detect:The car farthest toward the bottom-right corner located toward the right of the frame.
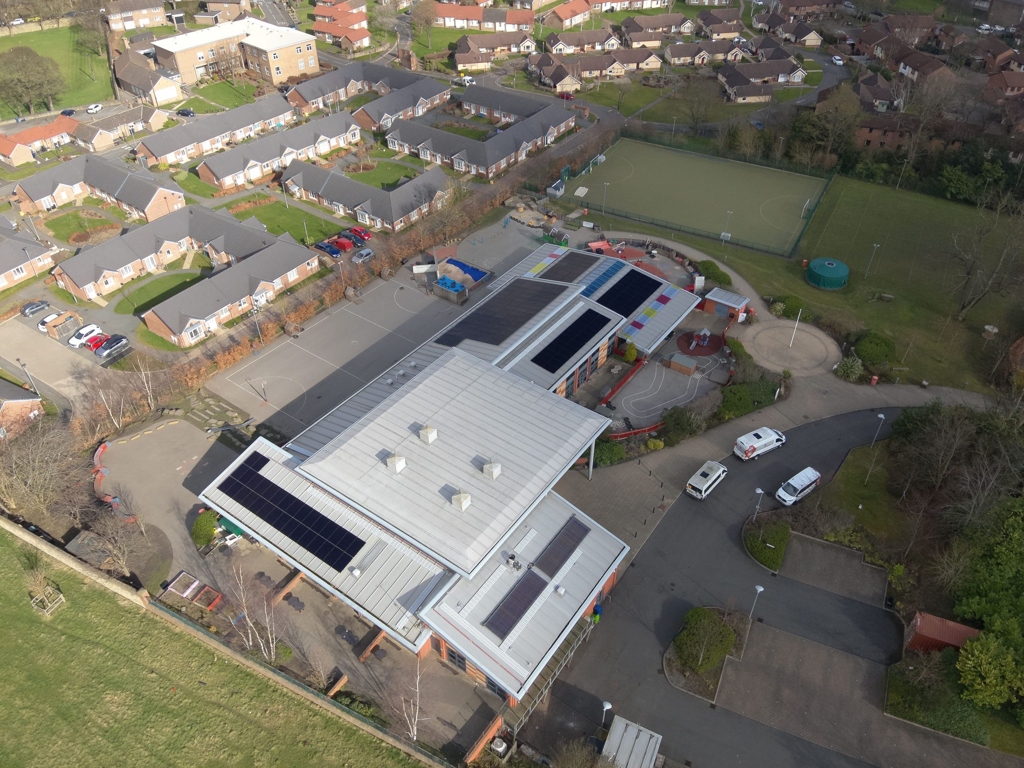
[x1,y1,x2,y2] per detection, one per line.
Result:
[781,465,824,501]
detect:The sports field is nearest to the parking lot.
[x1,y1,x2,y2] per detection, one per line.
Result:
[547,111,1024,401]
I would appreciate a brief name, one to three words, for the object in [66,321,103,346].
car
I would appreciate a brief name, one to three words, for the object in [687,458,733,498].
vehicle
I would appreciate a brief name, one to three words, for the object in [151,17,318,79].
building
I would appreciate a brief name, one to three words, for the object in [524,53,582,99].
house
